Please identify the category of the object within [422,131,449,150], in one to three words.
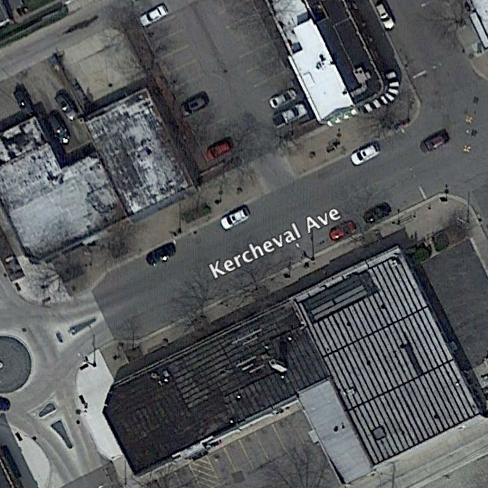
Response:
car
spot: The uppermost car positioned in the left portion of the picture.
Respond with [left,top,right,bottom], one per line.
[141,5,168,25]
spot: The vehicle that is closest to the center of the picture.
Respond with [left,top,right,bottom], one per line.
[223,208,250,227]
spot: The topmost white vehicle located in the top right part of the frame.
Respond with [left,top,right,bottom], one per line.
[377,2,396,30]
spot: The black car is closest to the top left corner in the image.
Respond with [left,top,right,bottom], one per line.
[12,84,30,111]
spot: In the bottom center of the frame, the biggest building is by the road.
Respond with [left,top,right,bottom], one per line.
[103,248,486,485]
